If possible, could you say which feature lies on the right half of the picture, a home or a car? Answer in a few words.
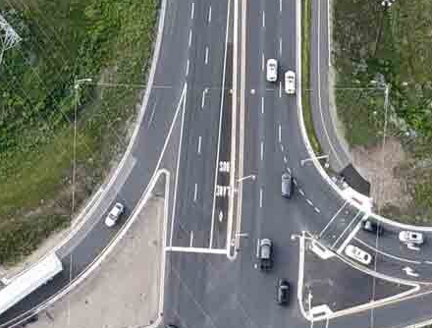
car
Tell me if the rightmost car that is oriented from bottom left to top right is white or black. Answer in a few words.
white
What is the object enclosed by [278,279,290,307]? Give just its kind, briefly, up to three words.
vehicle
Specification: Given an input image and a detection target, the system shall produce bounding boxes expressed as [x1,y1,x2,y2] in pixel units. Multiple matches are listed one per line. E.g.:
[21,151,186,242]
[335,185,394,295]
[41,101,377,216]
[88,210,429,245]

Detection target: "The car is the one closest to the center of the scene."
[281,172,293,199]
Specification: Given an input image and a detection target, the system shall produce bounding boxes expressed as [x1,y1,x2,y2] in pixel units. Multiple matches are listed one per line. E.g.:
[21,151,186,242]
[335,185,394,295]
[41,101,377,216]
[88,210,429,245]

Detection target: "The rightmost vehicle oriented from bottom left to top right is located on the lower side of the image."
[103,201,124,228]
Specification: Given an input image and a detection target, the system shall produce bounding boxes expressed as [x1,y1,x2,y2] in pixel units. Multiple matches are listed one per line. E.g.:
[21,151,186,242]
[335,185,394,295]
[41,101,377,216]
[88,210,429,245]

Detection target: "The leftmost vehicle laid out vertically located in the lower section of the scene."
[259,239,271,271]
